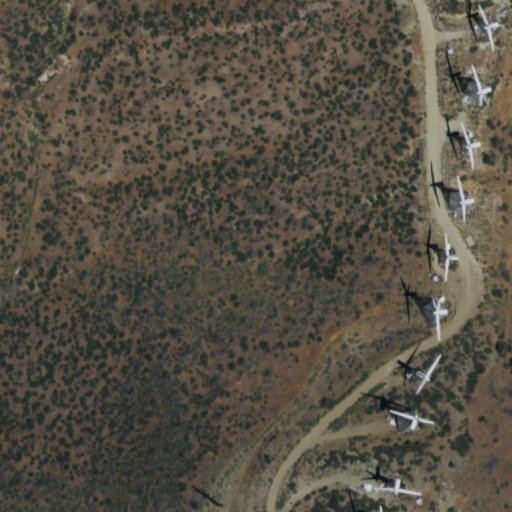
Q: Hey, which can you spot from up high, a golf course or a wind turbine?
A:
wind turbine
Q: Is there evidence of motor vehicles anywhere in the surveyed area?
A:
No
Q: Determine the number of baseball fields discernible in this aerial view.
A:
zero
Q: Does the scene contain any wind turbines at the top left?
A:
No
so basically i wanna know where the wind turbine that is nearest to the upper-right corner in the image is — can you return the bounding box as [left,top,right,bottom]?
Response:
[478,4,500,49]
